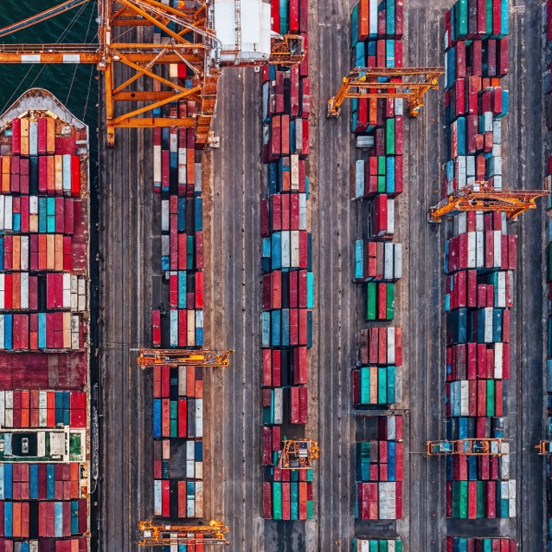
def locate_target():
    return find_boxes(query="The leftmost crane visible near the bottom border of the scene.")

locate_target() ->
[136,508,227,551]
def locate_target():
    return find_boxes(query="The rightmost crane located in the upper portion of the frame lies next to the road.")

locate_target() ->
[436,186,551,236]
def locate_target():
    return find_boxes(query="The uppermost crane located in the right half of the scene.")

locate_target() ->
[334,69,441,128]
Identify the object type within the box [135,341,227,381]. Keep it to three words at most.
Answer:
crane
